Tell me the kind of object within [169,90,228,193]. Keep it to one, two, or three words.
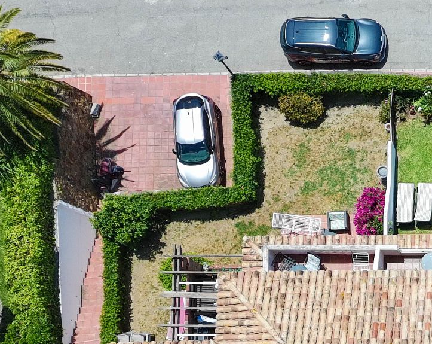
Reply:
car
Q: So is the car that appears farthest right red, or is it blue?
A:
blue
